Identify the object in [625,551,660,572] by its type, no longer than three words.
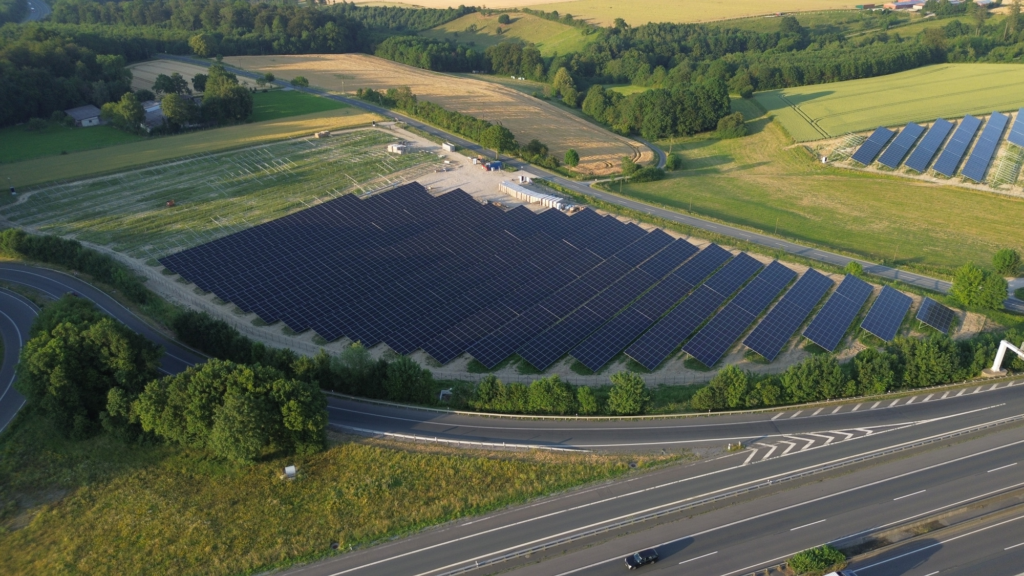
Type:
car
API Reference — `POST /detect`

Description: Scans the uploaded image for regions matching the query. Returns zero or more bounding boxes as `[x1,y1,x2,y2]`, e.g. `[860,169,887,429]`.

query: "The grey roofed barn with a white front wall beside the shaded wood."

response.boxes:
[63,107,105,128]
